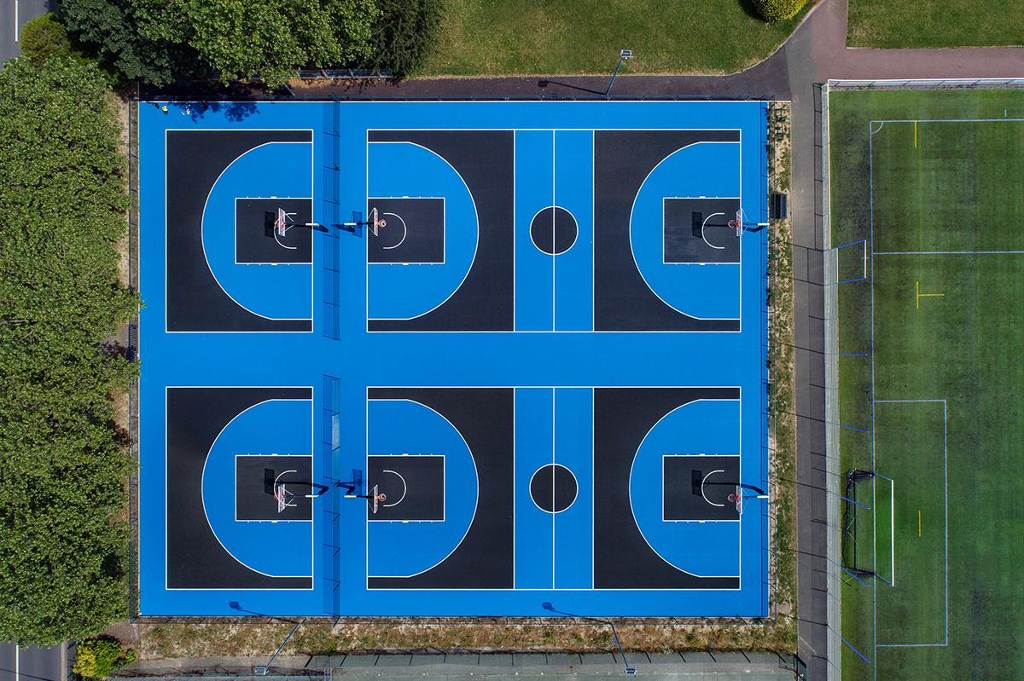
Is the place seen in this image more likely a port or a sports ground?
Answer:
sports ground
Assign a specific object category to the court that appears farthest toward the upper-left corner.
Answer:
basketball court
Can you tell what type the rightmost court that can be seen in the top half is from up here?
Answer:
basketball court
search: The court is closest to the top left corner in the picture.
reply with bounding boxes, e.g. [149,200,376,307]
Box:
[165,129,313,332]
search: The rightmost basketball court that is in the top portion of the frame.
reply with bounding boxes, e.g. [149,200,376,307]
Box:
[368,129,741,332]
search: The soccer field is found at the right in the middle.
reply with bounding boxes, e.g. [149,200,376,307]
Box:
[823,84,1024,681]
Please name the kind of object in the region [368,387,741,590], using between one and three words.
basketball court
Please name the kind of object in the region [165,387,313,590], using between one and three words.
basketball court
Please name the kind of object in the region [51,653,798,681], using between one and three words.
sports court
